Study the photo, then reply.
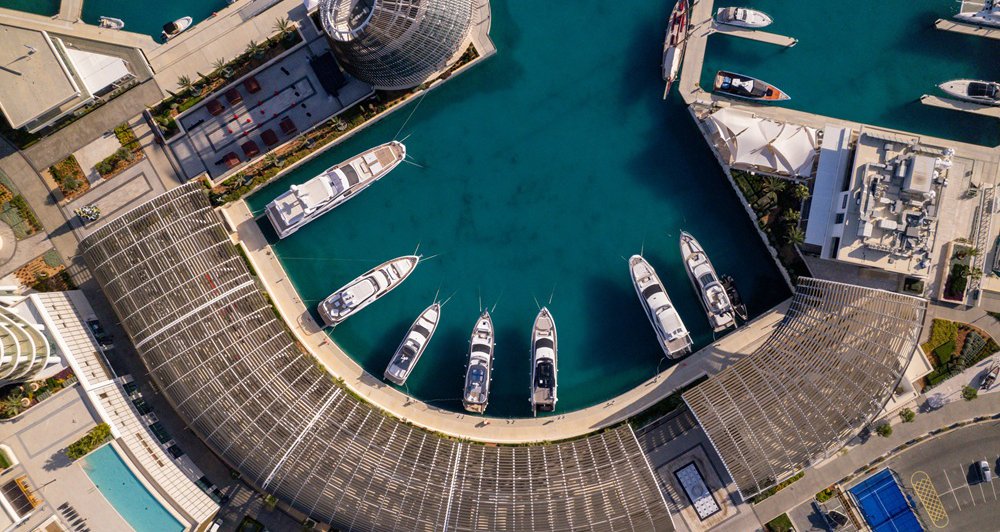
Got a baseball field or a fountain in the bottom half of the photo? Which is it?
fountain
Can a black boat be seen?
Yes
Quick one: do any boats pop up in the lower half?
Yes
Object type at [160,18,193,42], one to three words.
boat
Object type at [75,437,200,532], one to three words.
swimming pool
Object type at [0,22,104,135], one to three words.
building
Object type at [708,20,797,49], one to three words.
pier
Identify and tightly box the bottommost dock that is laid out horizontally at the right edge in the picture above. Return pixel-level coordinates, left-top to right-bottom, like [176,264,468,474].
[917,95,1000,119]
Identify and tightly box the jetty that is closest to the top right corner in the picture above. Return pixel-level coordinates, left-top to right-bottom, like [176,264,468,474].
[932,19,1000,41]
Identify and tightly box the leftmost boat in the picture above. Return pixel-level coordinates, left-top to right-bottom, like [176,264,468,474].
[98,17,125,29]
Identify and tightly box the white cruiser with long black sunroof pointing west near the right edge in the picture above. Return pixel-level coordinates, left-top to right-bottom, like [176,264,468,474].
[935,80,1000,106]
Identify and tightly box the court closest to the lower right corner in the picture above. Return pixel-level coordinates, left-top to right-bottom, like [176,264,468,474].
[849,466,933,532]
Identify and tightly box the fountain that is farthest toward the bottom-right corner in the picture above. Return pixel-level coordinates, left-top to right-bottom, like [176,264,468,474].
[675,462,721,519]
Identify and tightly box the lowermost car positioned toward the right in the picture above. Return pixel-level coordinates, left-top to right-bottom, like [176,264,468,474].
[827,511,849,526]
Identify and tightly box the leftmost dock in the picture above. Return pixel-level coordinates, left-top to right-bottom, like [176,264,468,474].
[59,0,88,22]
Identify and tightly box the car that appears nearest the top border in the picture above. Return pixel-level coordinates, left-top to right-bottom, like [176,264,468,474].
[978,460,992,481]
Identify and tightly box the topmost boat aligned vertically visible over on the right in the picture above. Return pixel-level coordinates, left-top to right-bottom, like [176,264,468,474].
[662,0,694,99]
